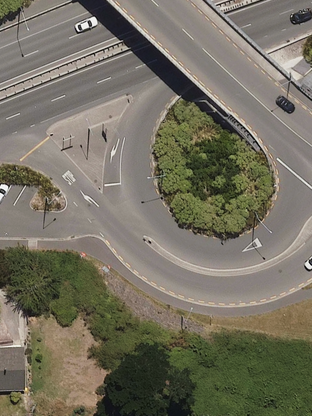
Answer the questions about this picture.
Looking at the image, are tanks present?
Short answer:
No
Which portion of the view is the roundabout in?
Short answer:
center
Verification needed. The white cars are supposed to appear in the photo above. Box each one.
[0,184,8,206]
[303,254,312,270]
[74,18,98,34]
